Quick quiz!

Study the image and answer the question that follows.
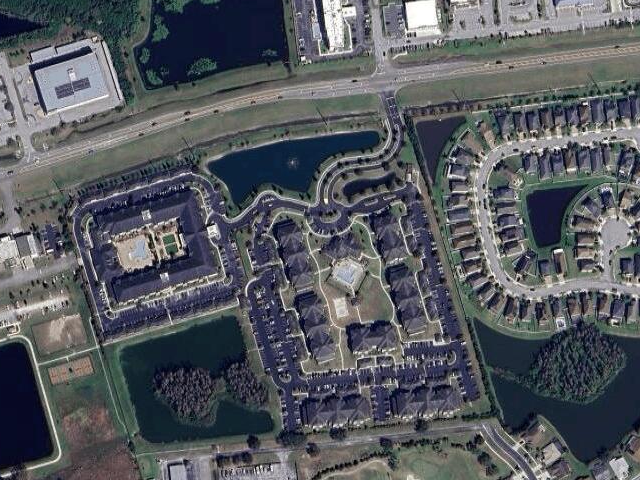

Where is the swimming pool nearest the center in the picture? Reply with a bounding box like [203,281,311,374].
[331,260,362,292]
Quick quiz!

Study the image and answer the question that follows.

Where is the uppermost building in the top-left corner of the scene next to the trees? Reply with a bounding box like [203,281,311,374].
[35,53,109,116]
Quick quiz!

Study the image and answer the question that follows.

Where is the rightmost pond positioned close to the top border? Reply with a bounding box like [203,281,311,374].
[136,0,286,89]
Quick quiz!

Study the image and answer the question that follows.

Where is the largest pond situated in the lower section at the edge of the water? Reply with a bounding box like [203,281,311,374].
[122,317,272,442]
